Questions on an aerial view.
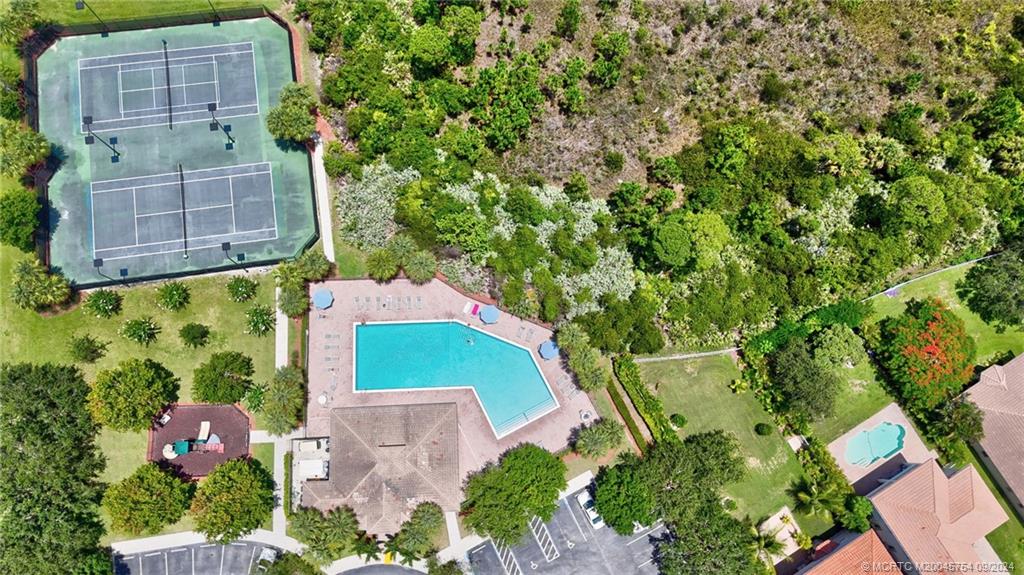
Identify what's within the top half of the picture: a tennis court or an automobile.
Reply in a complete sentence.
The feature located within the top half of the picture is a tennis court.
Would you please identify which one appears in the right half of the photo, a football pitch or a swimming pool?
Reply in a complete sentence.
Looking in the right half of the photo, you will find a swimming pool.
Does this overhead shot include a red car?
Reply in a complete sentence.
No, no red car is visible in the view.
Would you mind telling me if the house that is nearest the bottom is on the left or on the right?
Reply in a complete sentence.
The house that is nearest the bottom is on the right side of the image.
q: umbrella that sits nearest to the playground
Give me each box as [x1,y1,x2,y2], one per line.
[312,288,333,309]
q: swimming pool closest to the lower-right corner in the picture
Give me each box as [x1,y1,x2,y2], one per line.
[846,421,908,468]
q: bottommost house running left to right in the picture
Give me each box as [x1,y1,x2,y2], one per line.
[795,529,903,575]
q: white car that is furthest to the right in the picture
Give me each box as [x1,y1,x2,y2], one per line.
[576,491,605,529]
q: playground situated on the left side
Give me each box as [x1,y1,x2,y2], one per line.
[147,402,254,478]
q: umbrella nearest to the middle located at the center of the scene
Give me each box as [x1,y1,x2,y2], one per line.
[479,305,500,325]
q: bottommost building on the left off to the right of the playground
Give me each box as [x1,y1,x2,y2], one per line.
[302,403,461,538]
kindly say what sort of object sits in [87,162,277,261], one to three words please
tennis court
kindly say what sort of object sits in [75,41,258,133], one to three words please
tennis court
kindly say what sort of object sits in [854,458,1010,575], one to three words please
house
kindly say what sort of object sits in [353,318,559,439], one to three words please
swimming pool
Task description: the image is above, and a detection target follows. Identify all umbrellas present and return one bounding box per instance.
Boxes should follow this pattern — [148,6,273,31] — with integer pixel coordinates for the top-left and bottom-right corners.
[539,340,559,361]
[312,288,333,309]
[479,305,500,325]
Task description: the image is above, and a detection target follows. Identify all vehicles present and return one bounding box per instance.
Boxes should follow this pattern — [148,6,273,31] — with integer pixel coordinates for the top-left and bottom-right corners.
[576,491,605,529]
[250,546,272,575]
